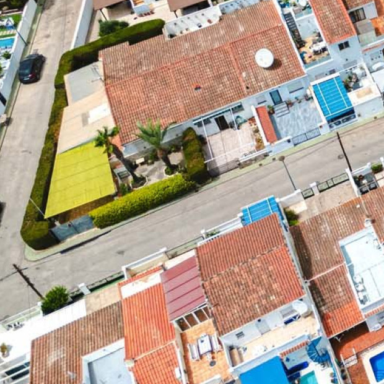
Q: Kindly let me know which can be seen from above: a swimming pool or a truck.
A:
swimming pool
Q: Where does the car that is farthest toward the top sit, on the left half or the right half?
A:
left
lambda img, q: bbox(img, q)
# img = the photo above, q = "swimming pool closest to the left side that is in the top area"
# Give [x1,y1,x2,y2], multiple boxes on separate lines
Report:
[0,35,17,51]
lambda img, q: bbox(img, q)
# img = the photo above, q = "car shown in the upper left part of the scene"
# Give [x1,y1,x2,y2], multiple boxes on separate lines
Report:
[16,57,48,82]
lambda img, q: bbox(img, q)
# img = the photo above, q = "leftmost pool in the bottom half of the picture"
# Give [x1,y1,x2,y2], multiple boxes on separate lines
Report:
[295,368,323,384]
